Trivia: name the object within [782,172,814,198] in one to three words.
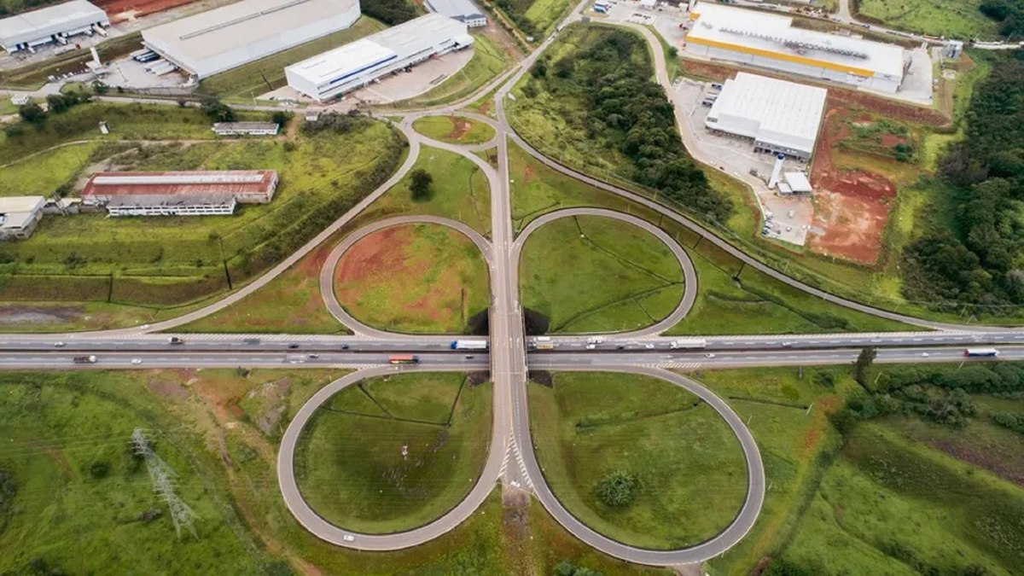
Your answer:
building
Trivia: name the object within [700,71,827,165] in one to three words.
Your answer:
building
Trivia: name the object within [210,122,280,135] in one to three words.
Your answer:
house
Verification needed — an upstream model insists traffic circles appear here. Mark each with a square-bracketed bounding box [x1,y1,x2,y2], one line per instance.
[402,111,497,149]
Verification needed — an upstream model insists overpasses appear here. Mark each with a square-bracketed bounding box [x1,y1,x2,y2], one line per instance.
[489,301,529,384]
